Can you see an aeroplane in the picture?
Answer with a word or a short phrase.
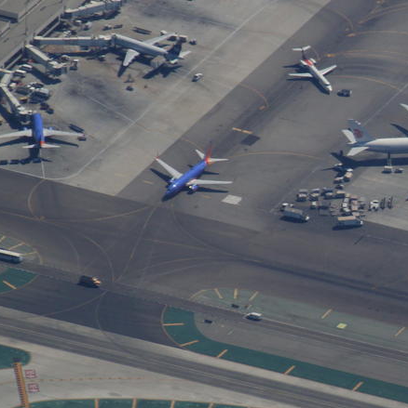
Yes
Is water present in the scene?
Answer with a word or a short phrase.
No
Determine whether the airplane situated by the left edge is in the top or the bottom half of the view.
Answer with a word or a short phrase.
top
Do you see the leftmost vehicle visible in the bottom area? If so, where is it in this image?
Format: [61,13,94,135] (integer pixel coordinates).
[0,245,23,261]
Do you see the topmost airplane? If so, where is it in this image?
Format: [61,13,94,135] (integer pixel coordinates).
[117,33,188,64]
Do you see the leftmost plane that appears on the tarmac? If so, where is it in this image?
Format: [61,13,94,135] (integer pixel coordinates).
[0,112,85,148]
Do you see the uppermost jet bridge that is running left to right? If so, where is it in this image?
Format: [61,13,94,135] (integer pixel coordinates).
[63,0,131,25]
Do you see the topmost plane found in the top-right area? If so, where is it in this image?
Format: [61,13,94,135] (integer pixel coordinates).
[288,49,335,94]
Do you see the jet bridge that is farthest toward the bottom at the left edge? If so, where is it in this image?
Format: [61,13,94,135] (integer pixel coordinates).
[0,65,29,124]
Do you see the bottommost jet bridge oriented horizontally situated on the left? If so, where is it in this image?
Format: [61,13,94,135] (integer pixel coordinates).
[31,33,120,52]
